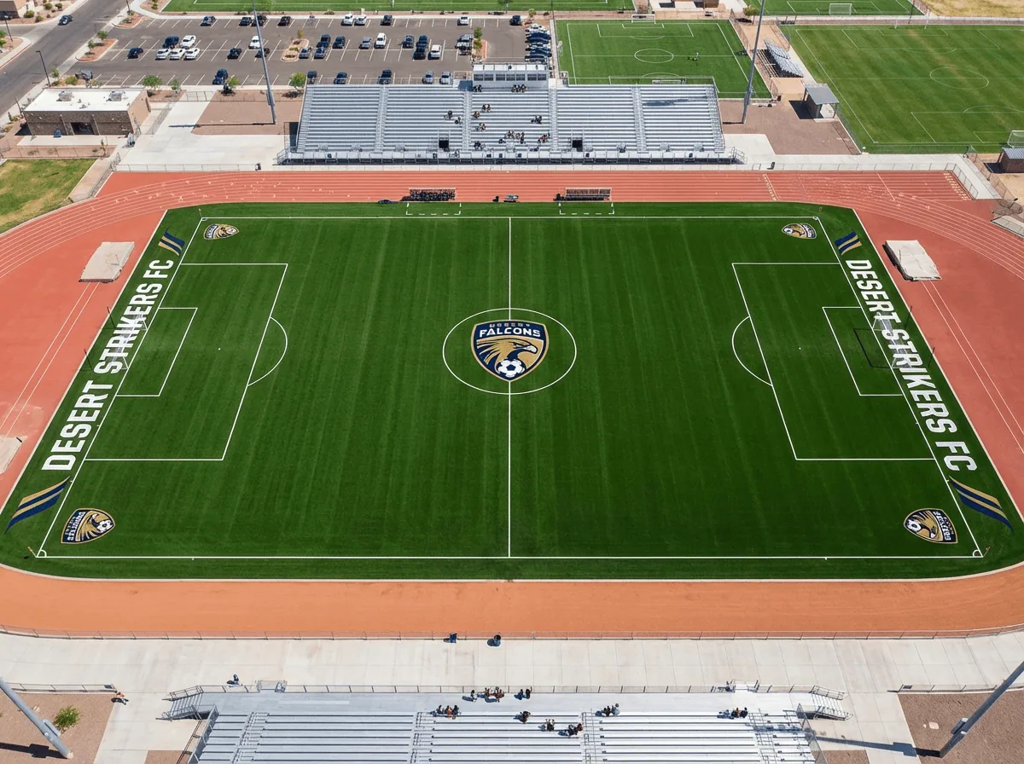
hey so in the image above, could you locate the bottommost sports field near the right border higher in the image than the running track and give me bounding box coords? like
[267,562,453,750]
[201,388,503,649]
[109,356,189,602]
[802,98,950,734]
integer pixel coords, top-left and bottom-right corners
[782,24,1024,153]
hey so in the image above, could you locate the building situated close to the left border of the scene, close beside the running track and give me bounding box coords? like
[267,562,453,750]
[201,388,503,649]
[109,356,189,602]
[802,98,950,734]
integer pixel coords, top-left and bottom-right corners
[21,88,151,136]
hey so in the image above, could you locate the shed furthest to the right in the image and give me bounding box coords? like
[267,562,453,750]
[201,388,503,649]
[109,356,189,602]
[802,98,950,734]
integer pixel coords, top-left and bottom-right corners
[993,141,1024,169]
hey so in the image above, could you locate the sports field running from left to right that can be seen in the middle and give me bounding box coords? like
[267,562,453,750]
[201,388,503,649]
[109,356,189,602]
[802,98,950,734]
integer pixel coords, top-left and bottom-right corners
[0,203,1024,578]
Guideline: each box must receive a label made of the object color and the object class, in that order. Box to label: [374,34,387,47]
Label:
white vehicle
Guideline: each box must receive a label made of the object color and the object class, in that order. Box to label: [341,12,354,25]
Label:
white vehicle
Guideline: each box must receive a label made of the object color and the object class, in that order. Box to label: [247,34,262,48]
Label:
white car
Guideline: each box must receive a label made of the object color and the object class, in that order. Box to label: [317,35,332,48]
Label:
black vehicle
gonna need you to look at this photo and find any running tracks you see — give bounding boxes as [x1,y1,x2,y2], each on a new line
[0,170,1024,519]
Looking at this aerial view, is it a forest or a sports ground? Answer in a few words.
sports ground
